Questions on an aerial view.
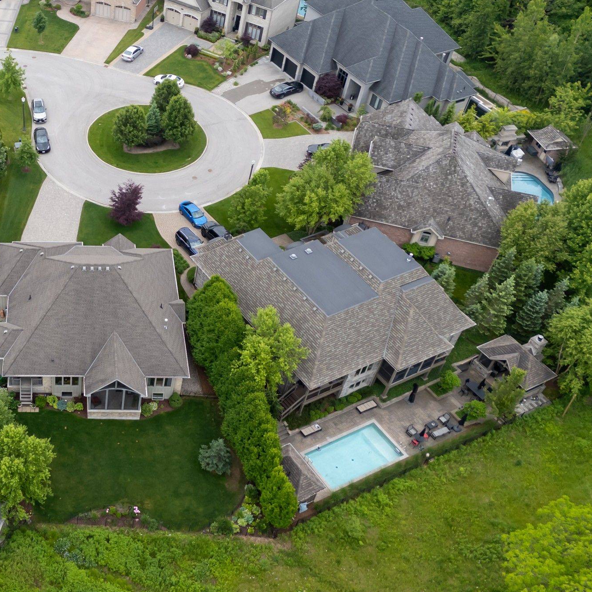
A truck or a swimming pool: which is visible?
swimming pool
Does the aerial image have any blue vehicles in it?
Yes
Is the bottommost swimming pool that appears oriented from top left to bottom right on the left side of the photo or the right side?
right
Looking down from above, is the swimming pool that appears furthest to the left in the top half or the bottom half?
bottom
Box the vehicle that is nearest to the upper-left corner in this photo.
[32,94,47,120]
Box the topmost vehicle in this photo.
[122,42,148,60]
